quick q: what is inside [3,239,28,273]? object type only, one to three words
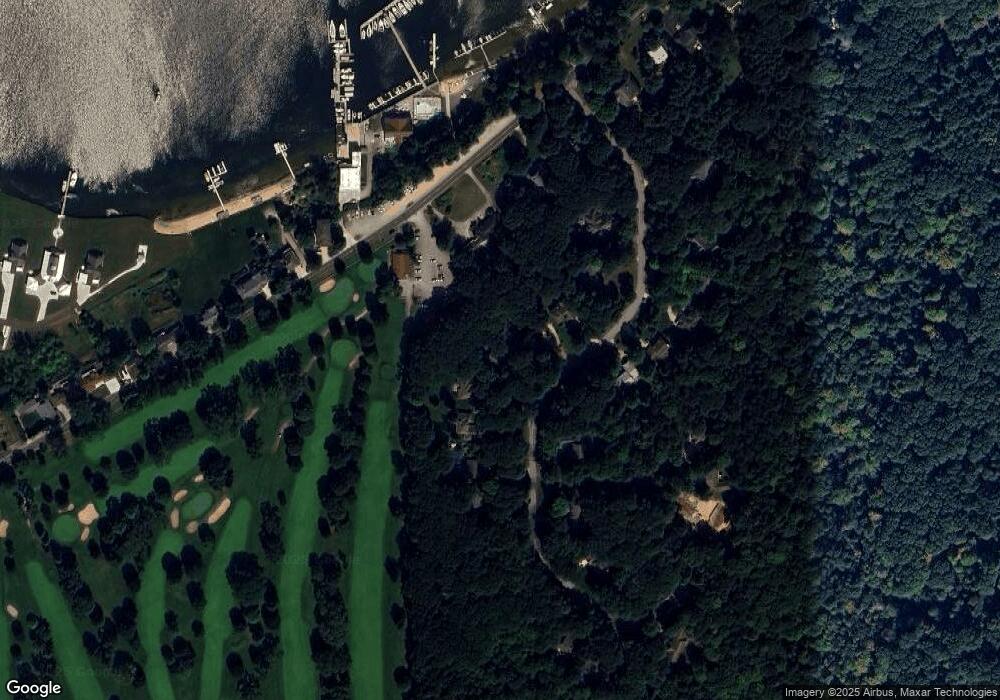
house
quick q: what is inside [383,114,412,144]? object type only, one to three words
building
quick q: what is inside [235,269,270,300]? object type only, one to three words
house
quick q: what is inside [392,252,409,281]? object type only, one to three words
building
